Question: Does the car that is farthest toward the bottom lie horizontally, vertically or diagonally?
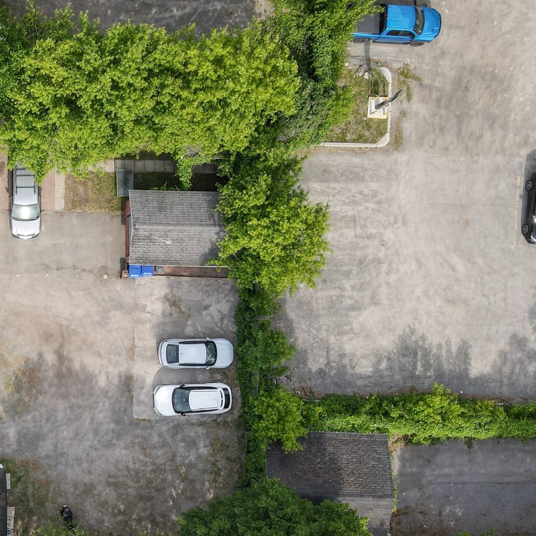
horizontally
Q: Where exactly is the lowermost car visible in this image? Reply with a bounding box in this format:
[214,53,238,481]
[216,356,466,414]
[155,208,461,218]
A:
[152,381,231,418]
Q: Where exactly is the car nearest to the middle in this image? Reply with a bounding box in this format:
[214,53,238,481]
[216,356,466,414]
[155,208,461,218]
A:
[156,336,232,371]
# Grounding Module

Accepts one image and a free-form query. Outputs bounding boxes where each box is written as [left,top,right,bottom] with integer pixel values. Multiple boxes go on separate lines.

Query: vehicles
[344,3,443,47]
[520,173,536,245]
[152,381,231,418]
[7,159,43,238]
[156,336,232,371]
